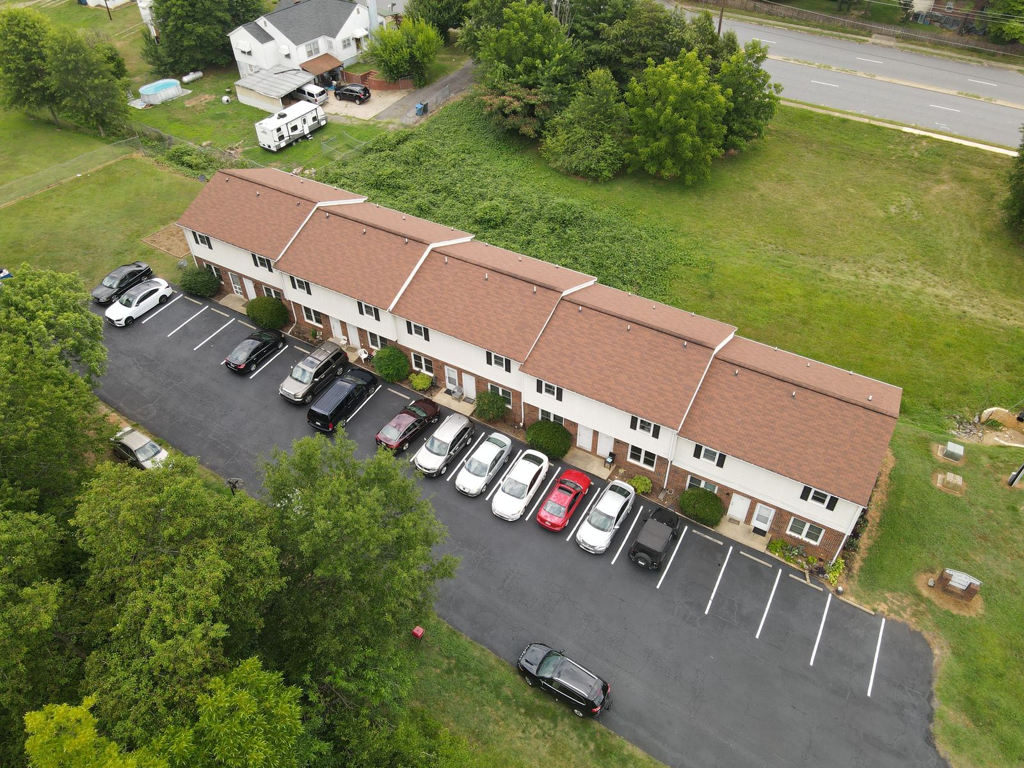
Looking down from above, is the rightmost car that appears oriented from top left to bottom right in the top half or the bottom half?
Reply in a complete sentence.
The bottom half of the photo is where the rightmost car that appears oriented from top left to bottom right is.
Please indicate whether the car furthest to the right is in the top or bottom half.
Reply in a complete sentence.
The car furthest to the right sits in the bottom half of the picture.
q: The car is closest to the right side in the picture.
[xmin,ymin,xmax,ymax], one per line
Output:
[629,506,683,577]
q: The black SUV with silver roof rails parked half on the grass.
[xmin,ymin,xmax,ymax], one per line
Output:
[512,638,615,723]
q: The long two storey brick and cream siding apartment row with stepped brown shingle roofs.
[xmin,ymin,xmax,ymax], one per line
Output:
[175,168,903,561]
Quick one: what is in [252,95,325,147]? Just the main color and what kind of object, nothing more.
white vehicle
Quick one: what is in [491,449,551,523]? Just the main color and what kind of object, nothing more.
white car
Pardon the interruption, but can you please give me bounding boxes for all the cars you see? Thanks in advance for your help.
[101,280,171,328]
[280,83,324,101]
[453,433,513,500]
[89,259,151,304]
[102,425,175,474]
[491,449,551,523]
[224,326,288,376]
[512,638,615,723]
[535,466,592,534]
[576,481,638,558]
[412,412,476,480]
[375,397,441,458]
[277,342,349,408]
[629,506,683,577]
[307,365,380,432]
[331,82,372,105]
